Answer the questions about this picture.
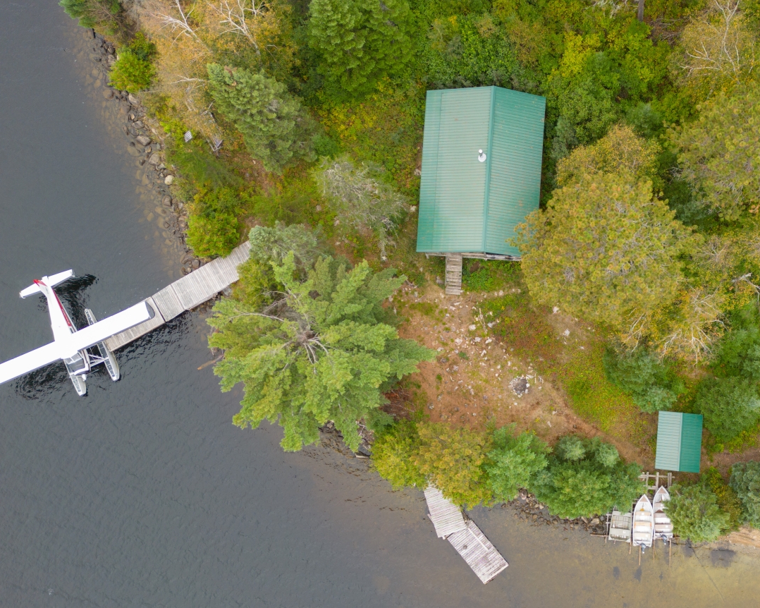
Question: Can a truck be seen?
No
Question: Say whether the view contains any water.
Yes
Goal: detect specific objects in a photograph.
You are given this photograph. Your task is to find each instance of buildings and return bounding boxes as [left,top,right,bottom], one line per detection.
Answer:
[416,85,545,294]
[653,411,703,474]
